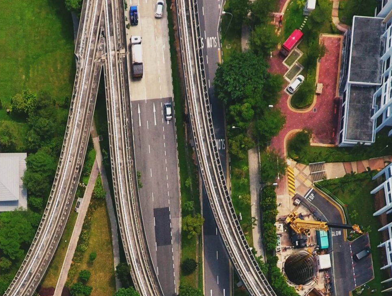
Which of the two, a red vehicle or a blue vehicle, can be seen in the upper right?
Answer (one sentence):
You can see a red vehicle in the upper right.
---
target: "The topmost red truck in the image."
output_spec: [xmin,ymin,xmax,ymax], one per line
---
[278,20,309,58]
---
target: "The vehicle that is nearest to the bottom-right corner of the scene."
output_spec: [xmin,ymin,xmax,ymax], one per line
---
[351,246,374,262]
